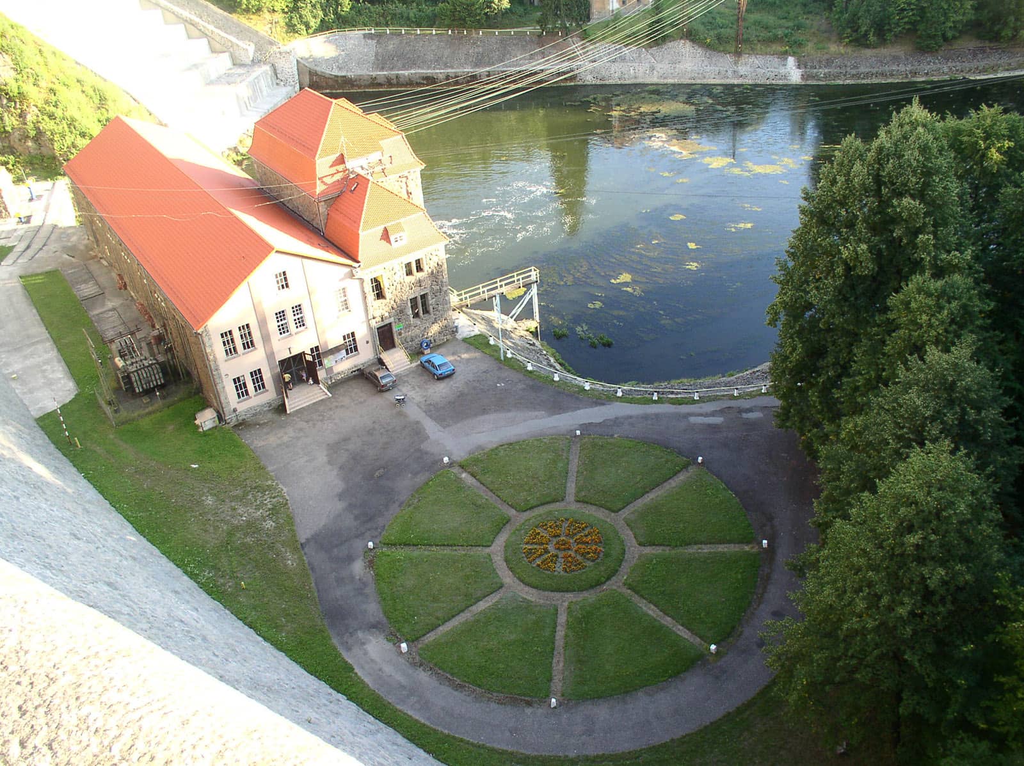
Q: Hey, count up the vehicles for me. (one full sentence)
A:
The photo contains 2 vehicles.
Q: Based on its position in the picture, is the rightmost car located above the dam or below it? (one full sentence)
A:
From this view, the rightmost car can be seen above the dam.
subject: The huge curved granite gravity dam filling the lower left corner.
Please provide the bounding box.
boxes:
[0,376,450,766]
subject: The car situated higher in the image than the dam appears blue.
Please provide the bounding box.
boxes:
[418,348,455,377]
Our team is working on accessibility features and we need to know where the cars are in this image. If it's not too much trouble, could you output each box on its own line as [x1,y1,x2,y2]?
[360,362,397,390]
[418,348,455,377]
